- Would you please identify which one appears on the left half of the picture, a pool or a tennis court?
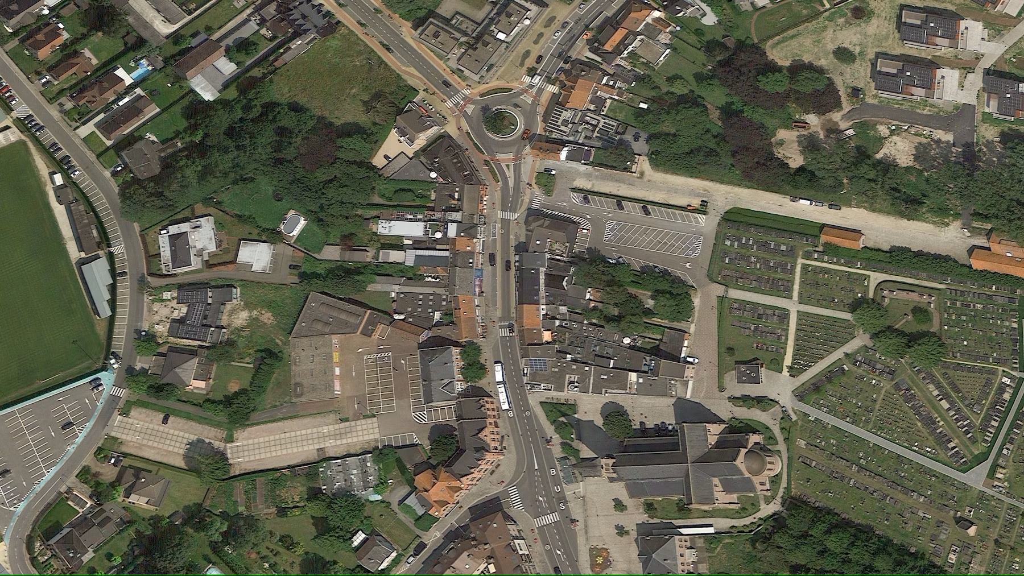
pool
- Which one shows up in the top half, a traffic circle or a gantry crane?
traffic circle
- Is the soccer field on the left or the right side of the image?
left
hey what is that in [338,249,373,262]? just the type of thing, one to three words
shed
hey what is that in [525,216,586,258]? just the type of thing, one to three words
house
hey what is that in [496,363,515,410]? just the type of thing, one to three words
vehicle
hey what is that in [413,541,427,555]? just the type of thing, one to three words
car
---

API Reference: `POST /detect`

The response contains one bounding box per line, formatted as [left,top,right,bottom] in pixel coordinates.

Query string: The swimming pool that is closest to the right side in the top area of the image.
[278,210,309,242]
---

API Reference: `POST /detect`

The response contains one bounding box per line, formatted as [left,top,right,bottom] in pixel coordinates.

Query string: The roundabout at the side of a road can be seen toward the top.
[462,85,540,156]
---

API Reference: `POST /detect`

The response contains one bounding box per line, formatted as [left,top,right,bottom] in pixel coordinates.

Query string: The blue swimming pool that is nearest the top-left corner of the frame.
[131,65,156,81]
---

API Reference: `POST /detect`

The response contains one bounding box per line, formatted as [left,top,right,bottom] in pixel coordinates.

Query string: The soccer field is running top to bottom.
[0,142,101,394]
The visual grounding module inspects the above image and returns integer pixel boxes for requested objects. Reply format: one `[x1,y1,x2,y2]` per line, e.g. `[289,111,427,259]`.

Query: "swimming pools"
[131,65,156,81]
[278,210,309,242]
[199,564,226,576]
